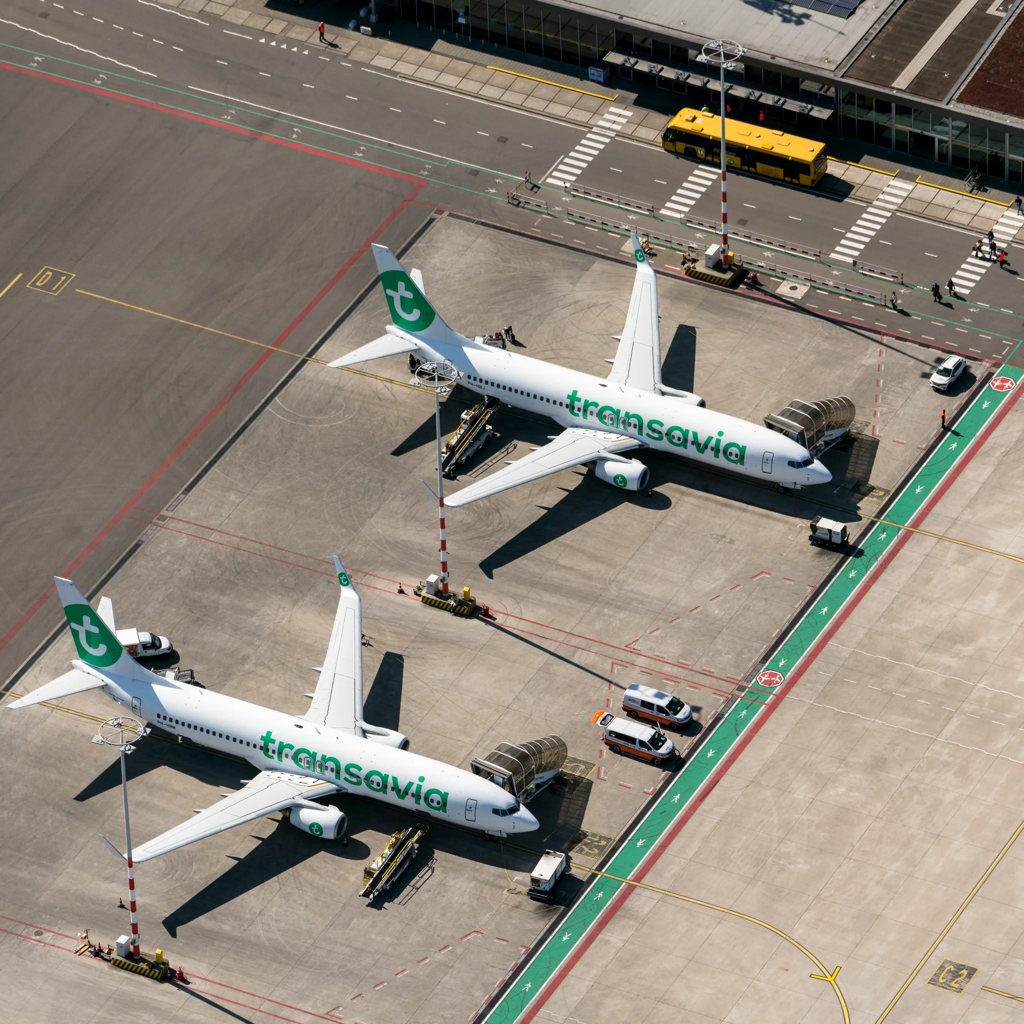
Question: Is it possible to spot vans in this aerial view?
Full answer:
Yes, a van can be made out from above.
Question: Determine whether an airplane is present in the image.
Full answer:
Yes, there's an airplane down there.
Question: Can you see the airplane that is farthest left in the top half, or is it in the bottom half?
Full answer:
Seen from above, the airplane that is farthest left lies in the bottom half of the view.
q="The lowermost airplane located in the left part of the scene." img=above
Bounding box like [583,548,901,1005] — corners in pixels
[7,556,539,859]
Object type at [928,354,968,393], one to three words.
car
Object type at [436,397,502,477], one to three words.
work vehicle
